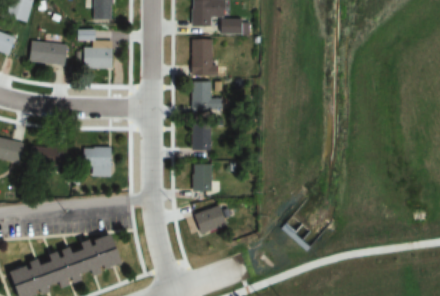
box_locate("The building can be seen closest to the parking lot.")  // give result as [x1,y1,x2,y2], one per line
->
[9,234,120,296]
